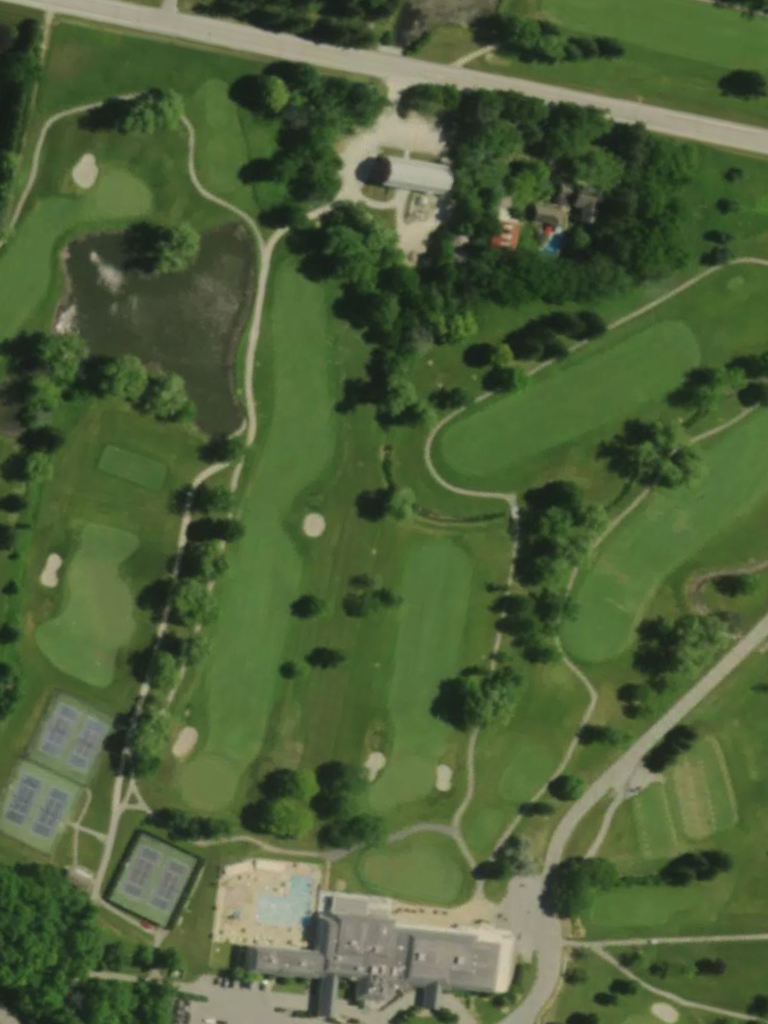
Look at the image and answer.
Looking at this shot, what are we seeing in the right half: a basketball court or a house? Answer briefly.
house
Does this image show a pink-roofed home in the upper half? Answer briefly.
No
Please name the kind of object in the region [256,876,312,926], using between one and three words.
swimming pool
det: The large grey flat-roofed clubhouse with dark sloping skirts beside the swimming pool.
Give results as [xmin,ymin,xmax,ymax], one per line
[245,895,514,1019]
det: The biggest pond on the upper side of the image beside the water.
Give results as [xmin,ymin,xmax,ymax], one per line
[57,223,253,438]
